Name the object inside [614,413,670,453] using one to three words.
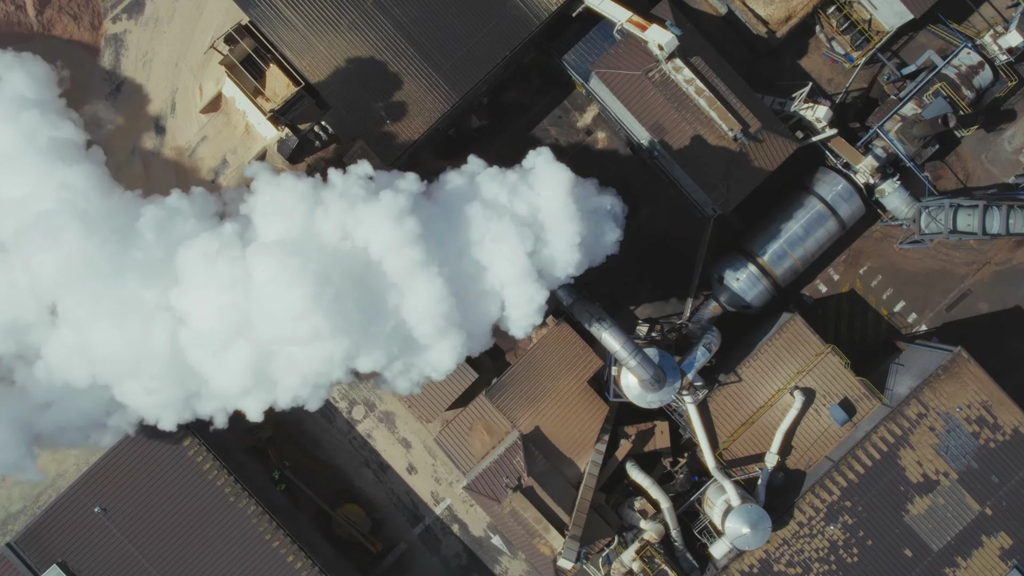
house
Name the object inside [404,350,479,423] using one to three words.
building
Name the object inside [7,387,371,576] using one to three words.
shed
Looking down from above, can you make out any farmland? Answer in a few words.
No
